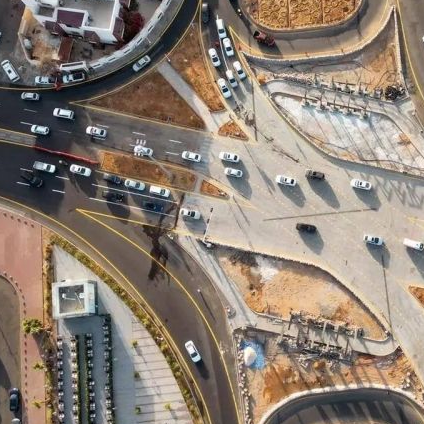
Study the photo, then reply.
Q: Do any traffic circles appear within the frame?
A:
No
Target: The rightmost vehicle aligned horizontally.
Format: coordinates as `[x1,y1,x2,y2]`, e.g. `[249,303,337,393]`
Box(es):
[402,237,424,251]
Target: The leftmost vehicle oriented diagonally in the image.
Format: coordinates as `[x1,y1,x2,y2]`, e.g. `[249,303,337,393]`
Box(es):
[0,60,18,81]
